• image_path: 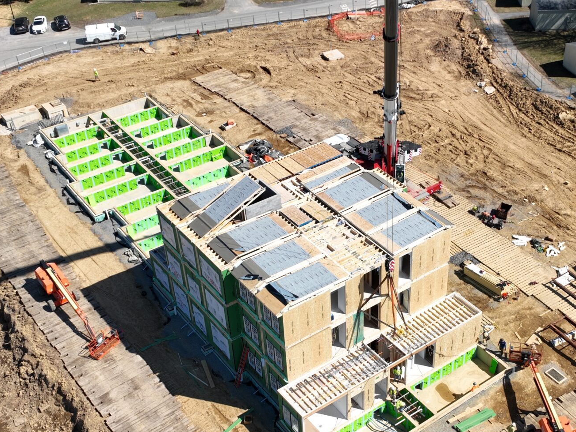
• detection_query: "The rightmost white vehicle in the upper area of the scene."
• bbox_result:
[82,19,126,43]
